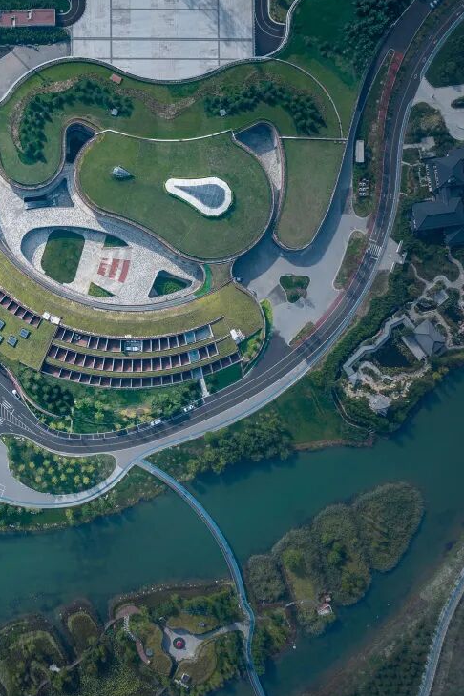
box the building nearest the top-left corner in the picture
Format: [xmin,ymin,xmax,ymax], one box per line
[0,8,56,27]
